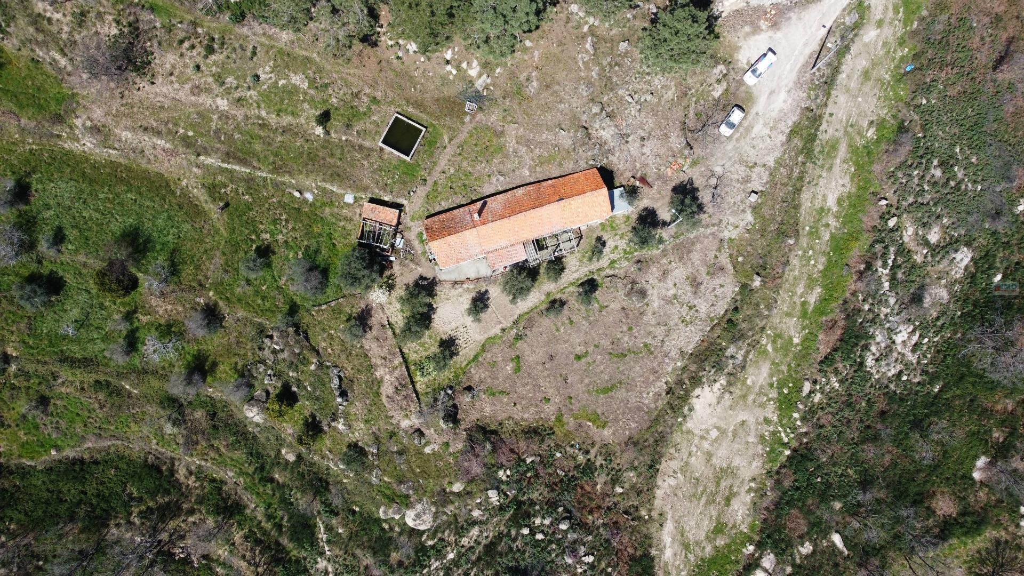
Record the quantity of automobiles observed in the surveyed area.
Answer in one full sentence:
My tally gives 2 automobiles in this view.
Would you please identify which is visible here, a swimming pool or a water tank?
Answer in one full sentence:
I can see a water tank in this picture.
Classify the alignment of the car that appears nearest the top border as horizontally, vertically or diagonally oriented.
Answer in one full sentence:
The car that appears nearest the top border runs diagonally in the image.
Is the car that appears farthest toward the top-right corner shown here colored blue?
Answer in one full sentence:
No, the car that appears farthest toward the top-right corner is actually white.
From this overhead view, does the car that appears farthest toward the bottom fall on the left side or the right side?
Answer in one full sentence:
The car that appears farthest toward the bottom appears in the right half of the scene.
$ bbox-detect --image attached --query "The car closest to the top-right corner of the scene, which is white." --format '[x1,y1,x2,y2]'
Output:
[740,45,782,88]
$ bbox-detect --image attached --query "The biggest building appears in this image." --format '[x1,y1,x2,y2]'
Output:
[425,168,612,271]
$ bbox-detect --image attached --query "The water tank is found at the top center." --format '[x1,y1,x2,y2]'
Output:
[379,113,427,162]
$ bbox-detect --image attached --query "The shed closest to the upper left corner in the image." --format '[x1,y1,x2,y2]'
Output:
[362,202,399,227]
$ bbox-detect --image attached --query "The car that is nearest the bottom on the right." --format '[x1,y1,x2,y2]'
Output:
[716,102,747,139]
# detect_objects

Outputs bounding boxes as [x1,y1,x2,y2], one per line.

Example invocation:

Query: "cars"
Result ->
[740,45,782,88]
[716,102,747,139]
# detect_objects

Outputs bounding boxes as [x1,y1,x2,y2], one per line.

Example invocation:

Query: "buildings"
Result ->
[425,168,612,271]
[362,202,399,227]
